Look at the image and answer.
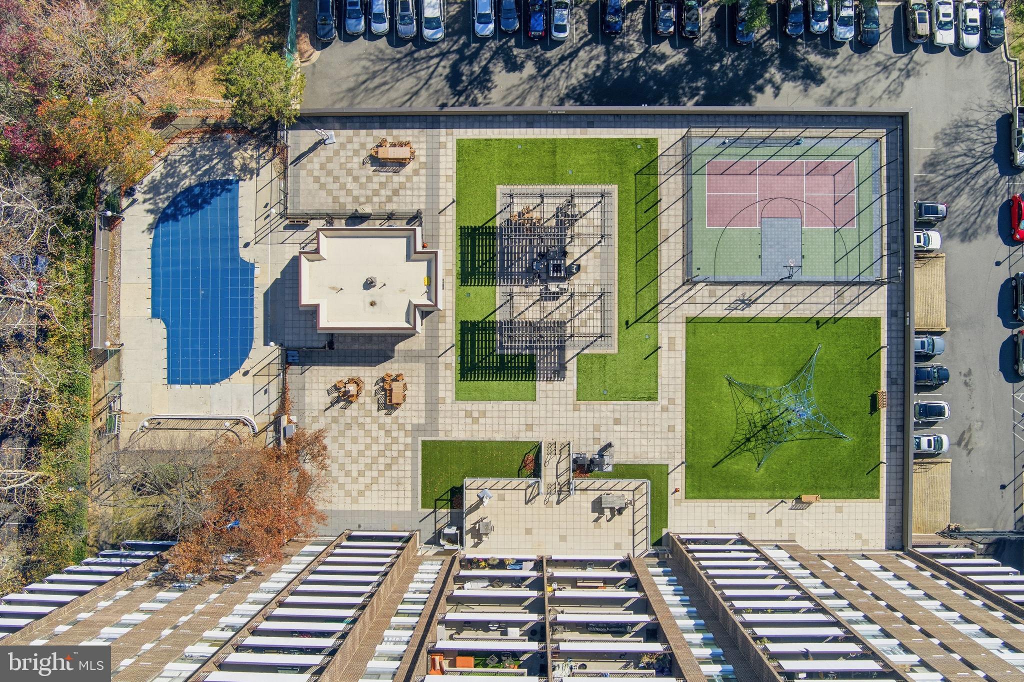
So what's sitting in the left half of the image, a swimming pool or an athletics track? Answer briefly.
swimming pool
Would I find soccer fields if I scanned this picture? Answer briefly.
No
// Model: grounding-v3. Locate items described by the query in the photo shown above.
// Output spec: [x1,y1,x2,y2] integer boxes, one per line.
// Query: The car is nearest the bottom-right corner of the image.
[914,432,949,455]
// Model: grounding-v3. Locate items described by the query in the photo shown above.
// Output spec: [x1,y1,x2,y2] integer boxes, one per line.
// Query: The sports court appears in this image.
[688,138,881,283]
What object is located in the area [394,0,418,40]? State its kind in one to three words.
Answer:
car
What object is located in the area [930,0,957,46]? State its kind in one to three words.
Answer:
car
